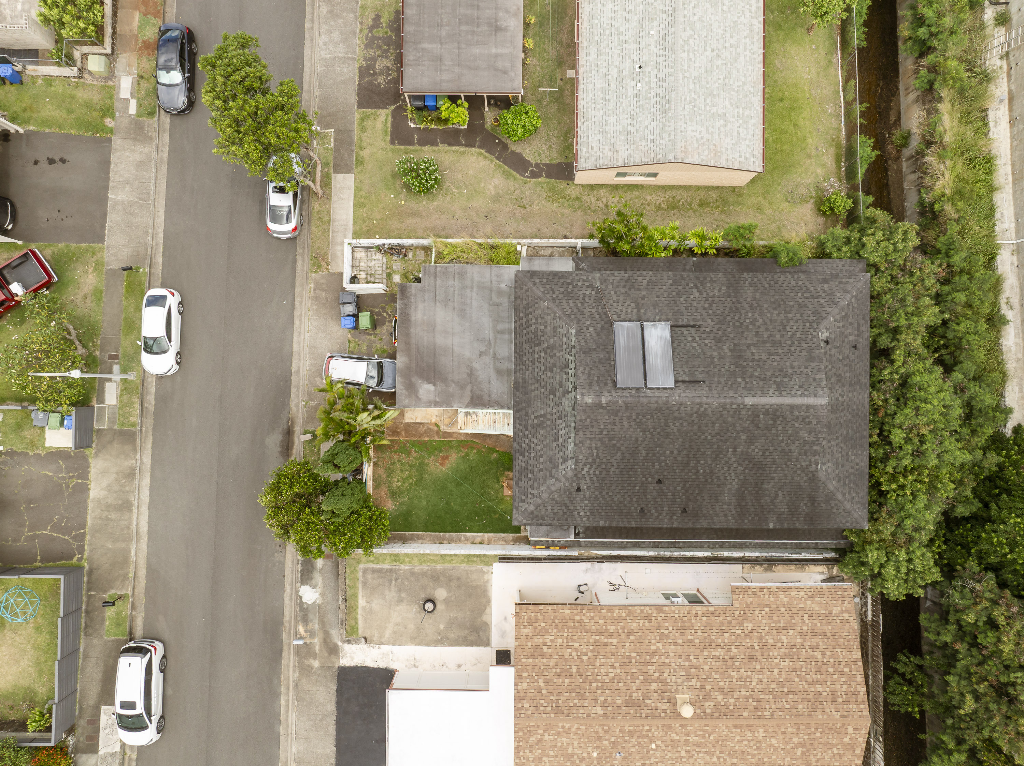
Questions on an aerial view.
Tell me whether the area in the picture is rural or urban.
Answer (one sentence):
The area shown here is urban.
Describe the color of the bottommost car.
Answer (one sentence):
From above, the bottommost car appears white.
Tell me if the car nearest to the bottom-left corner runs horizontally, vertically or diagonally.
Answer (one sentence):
Seen from above, the car nearest to the bottom-left corner lies vertically.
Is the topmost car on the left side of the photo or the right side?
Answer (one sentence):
The topmost car appears in the left half of the scene.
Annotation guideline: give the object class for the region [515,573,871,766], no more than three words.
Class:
house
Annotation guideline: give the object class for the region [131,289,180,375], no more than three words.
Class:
car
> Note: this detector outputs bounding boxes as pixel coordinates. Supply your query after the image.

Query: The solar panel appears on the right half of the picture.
[597,286,705,387]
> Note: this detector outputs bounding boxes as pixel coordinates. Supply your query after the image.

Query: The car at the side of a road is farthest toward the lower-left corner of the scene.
[106,639,160,742]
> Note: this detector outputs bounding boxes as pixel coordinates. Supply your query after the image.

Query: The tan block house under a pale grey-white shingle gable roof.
[570,0,766,184]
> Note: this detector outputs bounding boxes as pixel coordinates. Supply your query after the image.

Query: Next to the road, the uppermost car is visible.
[148,25,195,116]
